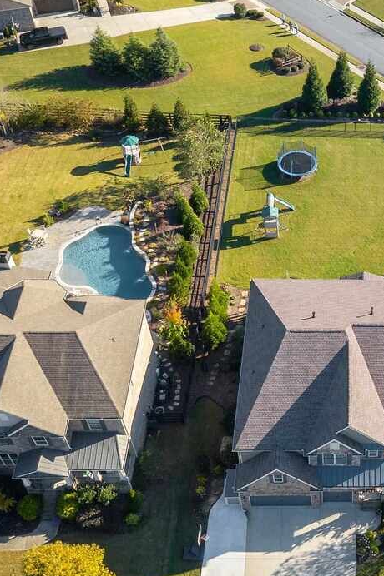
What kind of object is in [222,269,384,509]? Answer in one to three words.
house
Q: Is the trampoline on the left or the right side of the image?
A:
right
